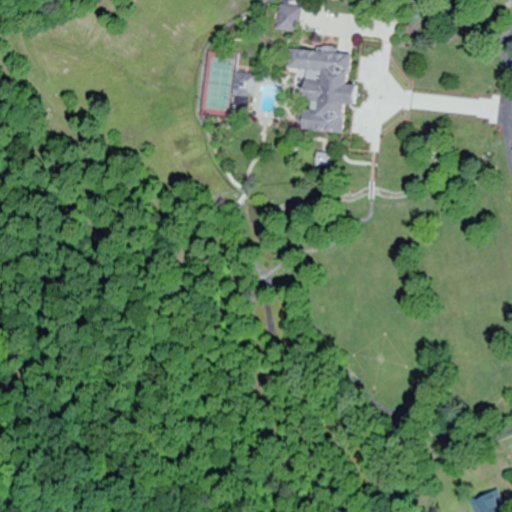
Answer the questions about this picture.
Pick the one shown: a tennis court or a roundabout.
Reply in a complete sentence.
Visible in the photo is a tennis court.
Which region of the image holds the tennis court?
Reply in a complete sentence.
You can find the tennis court in the top area of the picture.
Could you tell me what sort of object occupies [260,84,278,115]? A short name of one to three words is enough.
swimming pool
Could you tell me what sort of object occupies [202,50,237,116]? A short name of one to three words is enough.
tennis court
